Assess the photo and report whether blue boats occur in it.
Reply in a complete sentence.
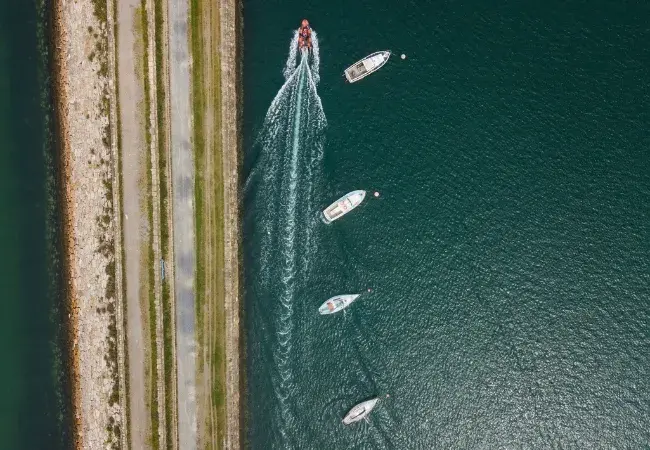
No, I find no blue boat anywhere in the image.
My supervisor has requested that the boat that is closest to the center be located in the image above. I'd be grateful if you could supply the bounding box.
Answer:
[321,191,366,223]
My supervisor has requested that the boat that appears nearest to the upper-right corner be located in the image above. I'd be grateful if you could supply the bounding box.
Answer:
[343,48,393,83]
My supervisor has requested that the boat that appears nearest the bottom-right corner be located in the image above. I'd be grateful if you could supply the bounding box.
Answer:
[343,397,378,437]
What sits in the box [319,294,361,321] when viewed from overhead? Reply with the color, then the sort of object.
white boat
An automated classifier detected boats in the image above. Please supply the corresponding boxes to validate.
[343,48,393,83]
[321,191,366,223]
[343,397,378,437]
[319,294,361,321]
[298,18,312,50]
